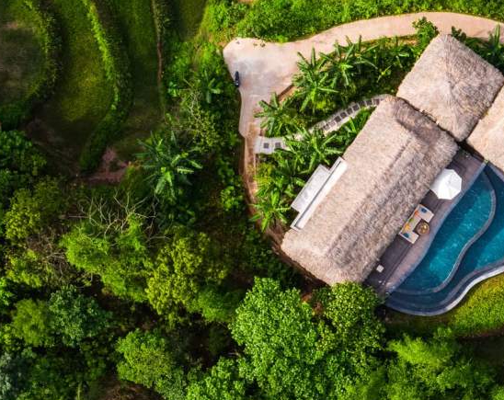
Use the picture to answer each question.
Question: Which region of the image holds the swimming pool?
right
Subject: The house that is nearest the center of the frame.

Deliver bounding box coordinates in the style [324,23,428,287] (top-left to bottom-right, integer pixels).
[287,101,455,290]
